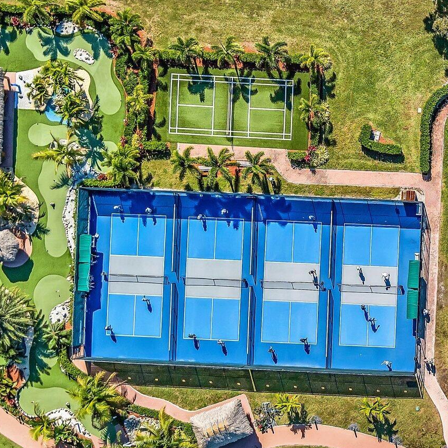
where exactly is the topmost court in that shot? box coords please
[154,66,310,150]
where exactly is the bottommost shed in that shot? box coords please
[191,393,255,448]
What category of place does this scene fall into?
sports ground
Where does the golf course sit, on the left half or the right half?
left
